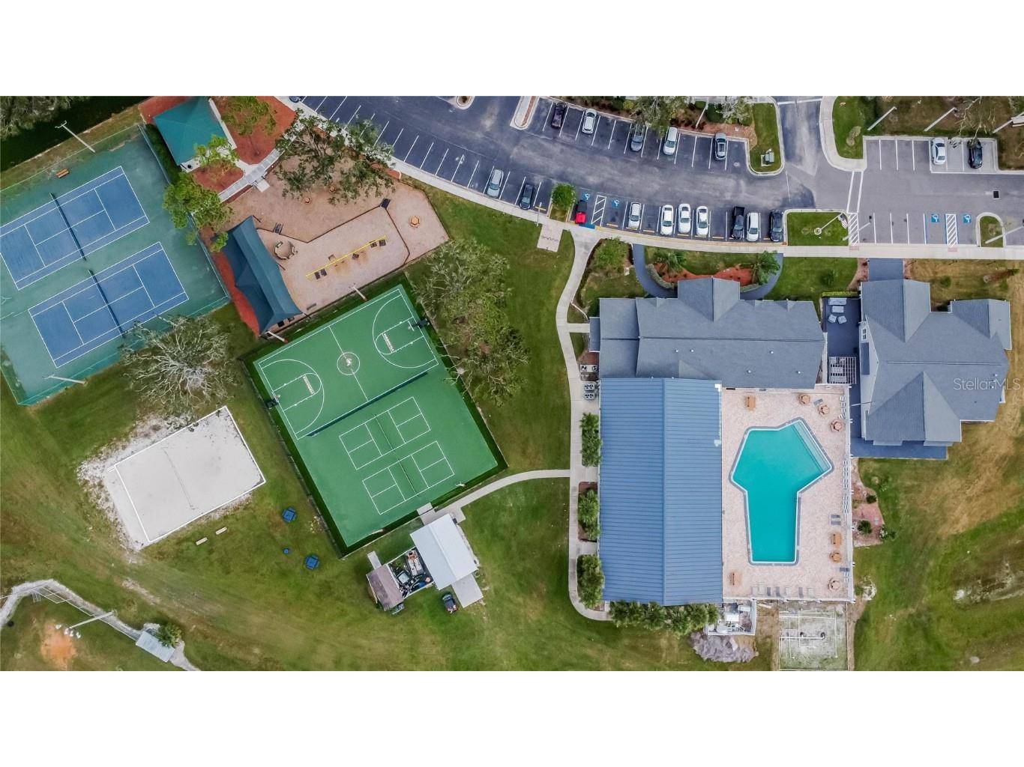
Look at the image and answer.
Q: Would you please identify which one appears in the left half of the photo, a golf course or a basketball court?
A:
basketball court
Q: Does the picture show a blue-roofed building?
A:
Yes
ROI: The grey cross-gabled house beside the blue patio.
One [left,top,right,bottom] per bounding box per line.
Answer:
[853,279,1011,446]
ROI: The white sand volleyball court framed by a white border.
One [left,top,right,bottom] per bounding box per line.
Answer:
[107,405,266,543]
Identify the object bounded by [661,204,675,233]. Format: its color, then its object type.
white car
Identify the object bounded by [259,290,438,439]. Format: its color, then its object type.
green basketball court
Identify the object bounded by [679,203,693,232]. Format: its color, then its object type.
white car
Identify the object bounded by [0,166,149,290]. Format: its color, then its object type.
blue tennis court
